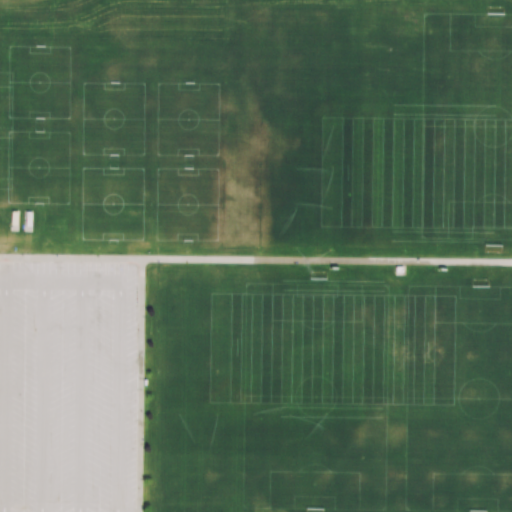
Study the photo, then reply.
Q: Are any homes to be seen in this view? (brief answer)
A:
No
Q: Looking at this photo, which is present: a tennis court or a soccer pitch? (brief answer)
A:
soccer pitch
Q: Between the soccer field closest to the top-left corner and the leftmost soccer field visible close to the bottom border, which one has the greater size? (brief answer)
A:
the leftmost soccer field visible close to the bottom border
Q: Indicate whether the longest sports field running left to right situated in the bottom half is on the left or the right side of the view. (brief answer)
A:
right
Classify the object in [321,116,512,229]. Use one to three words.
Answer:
sports field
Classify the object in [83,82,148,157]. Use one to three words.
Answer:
soccer field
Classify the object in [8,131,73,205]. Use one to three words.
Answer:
soccer field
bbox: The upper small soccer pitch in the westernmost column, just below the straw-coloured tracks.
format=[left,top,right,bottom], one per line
[8,45,73,120]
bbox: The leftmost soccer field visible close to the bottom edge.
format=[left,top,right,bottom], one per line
[243,406,390,510]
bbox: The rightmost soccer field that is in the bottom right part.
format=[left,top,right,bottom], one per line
[405,285,512,512]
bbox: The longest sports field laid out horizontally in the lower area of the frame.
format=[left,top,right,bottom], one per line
[209,293,458,406]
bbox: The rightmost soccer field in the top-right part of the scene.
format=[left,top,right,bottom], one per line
[421,13,512,116]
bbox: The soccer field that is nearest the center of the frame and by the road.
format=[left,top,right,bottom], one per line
[157,168,222,243]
